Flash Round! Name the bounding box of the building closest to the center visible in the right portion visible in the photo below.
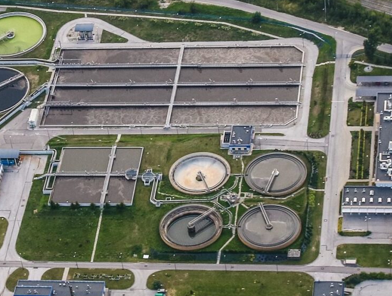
[229,125,254,153]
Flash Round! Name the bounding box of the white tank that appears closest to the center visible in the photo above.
[168,152,232,197]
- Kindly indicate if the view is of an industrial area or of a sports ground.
industrial area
